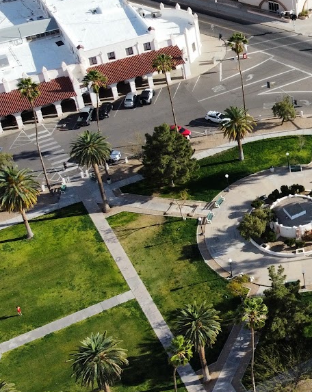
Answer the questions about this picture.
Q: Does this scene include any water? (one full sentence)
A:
No, there's no water in this view.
